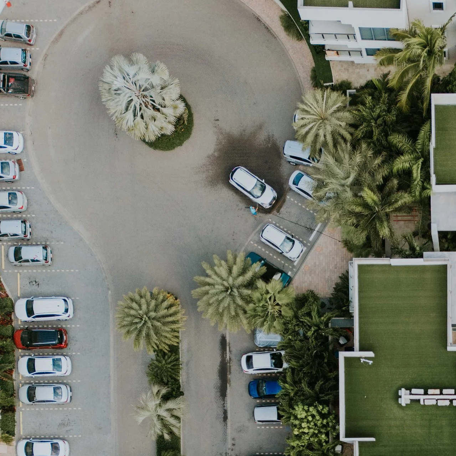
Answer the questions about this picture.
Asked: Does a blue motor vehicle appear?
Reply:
Yes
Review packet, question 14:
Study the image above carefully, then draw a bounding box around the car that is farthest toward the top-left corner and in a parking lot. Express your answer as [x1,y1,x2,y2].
[0,17,36,48]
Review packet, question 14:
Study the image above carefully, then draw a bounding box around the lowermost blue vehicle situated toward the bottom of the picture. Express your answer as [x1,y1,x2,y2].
[252,376,281,400]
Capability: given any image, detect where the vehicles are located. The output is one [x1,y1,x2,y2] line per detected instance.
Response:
[256,220,306,263]
[225,162,280,211]
[0,17,36,48]
[19,353,73,378]
[14,325,70,352]
[255,404,280,425]
[252,376,281,400]
[0,191,29,215]
[282,162,332,203]
[0,73,35,101]
[0,132,28,157]
[275,136,330,169]
[240,349,280,374]
[17,436,71,456]
[20,381,73,406]
[0,49,31,73]
[15,295,74,323]
[241,247,297,290]
[0,161,23,184]
[7,243,55,268]
[0,219,32,243]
